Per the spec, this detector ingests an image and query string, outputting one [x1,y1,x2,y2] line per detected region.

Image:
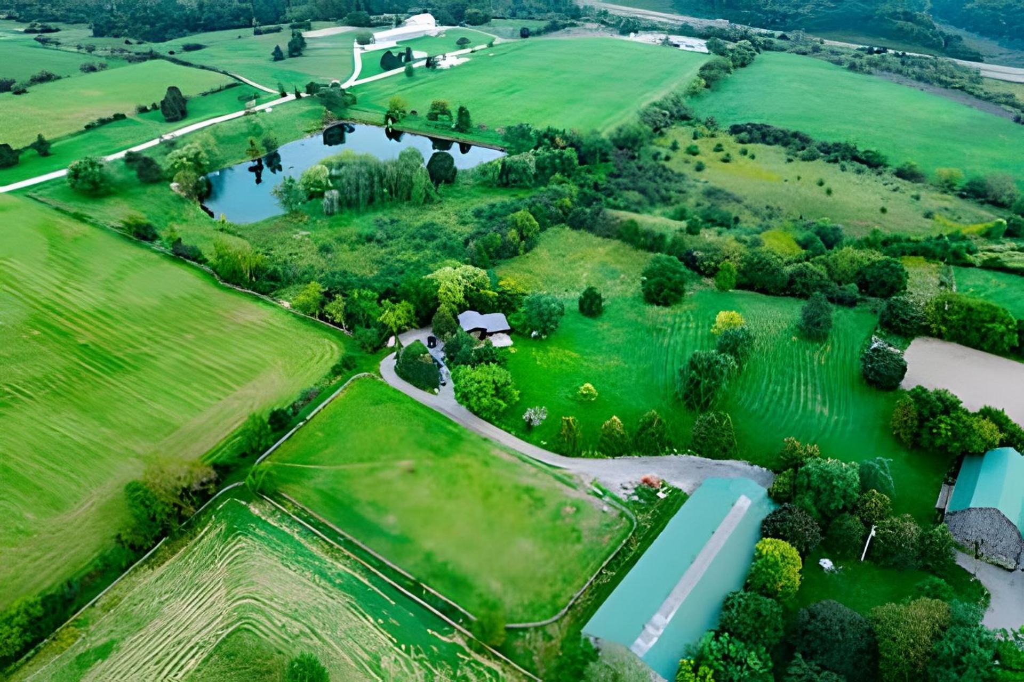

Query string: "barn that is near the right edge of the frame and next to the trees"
[923,447,1024,568]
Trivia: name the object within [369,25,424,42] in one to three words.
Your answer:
shed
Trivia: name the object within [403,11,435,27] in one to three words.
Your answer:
barn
